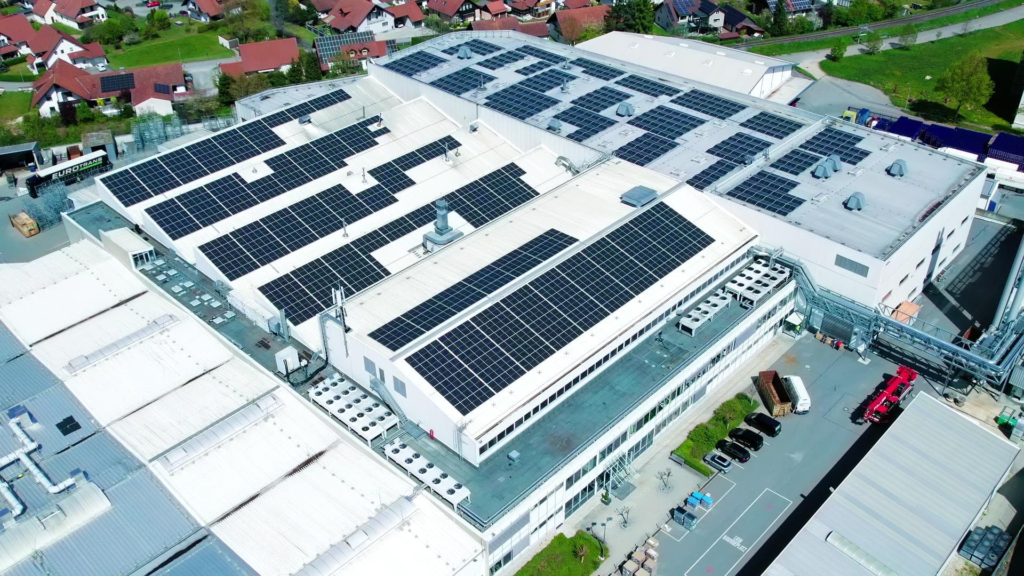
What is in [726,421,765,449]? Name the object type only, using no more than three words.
car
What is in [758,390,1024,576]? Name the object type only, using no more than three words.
warehouse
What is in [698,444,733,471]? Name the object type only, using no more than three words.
car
